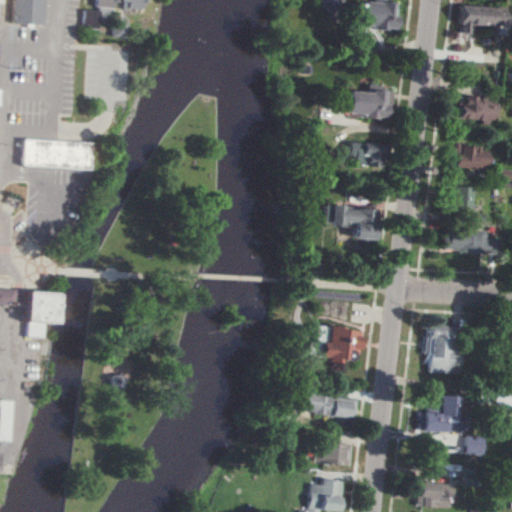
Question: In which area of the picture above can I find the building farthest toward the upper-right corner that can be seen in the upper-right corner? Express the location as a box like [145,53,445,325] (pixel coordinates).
[460,4,512,32]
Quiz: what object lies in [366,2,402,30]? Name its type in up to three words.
house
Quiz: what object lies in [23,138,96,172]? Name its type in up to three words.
building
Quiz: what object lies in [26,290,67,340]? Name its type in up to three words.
building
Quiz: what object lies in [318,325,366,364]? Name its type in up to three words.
house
